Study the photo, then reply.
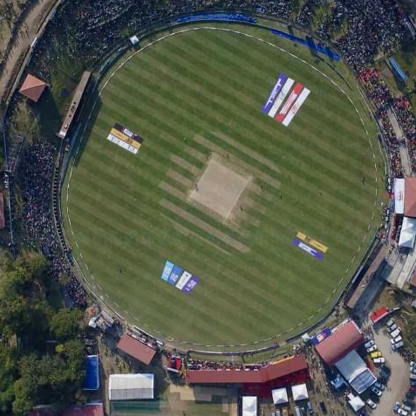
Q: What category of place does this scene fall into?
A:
sports ground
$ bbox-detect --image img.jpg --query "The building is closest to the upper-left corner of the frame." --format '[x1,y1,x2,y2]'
[19,75,49,101]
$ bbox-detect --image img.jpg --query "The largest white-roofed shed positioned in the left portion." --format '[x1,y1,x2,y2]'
[109,372,154,400]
